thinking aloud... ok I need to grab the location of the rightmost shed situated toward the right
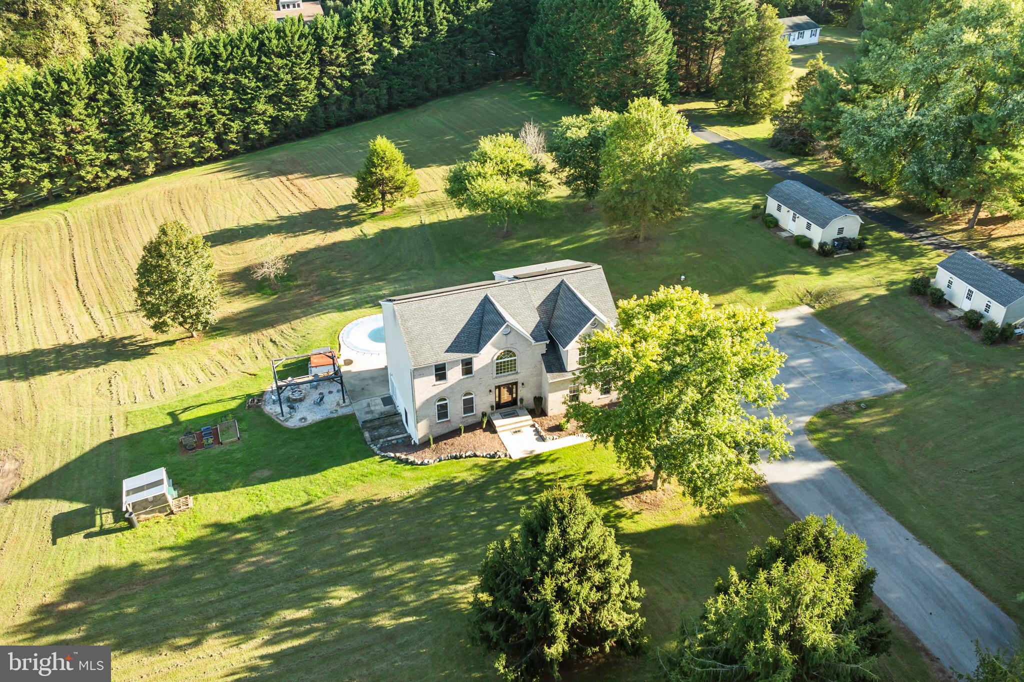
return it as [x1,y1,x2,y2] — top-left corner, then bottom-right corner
[936,250,1024,326]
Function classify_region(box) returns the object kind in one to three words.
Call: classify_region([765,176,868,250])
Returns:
shed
